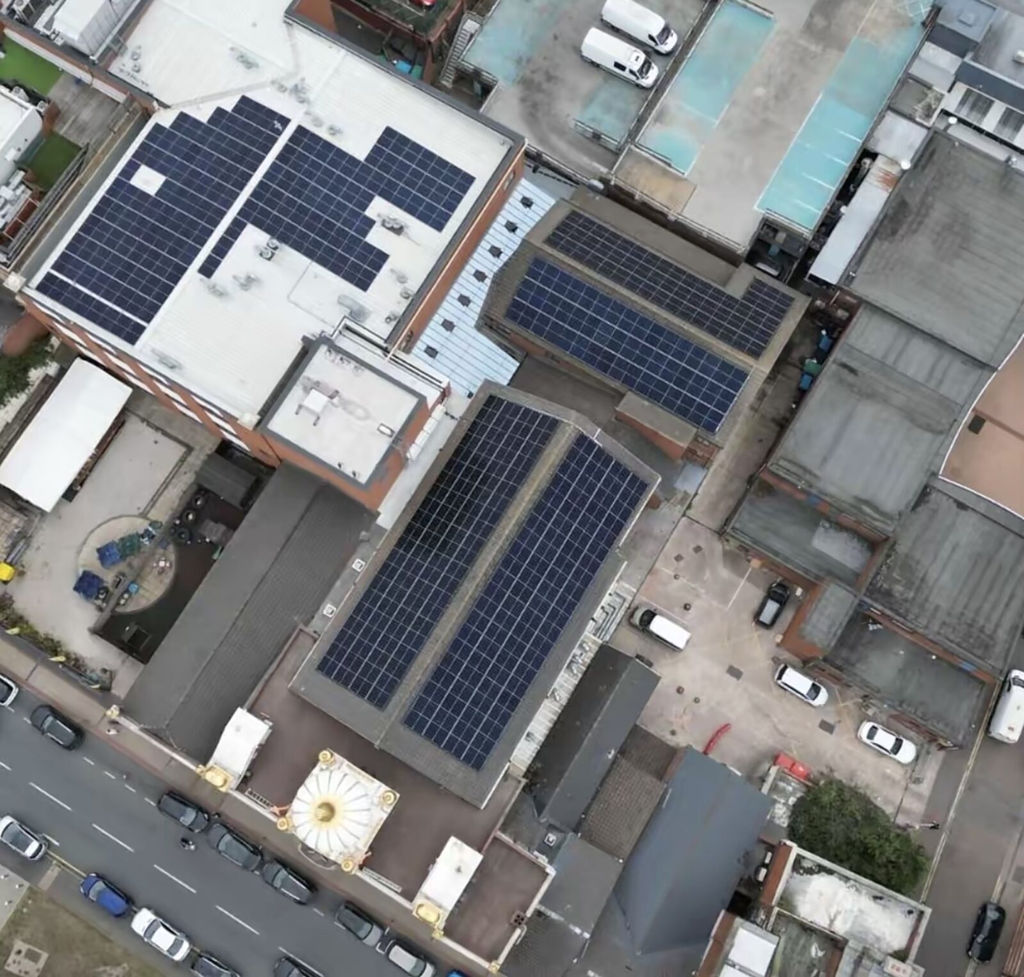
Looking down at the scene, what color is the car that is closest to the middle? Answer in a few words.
white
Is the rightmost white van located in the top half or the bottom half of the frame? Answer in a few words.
bottom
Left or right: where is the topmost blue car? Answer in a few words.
left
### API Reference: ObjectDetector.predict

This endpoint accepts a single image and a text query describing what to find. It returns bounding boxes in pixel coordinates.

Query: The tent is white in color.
[0,357,142,521]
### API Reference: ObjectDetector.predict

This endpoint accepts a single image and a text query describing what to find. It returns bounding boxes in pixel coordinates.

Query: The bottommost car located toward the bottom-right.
[963,900,1004,964]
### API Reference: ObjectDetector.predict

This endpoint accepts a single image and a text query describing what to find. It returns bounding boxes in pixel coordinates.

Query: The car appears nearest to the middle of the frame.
[628,607,694,651]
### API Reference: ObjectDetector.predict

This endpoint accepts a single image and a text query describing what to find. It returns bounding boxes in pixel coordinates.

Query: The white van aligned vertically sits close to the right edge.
[990,670,1024,741]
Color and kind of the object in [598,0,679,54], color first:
white van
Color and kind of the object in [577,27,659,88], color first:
white van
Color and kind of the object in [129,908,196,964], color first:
white car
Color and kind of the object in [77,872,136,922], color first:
blue car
